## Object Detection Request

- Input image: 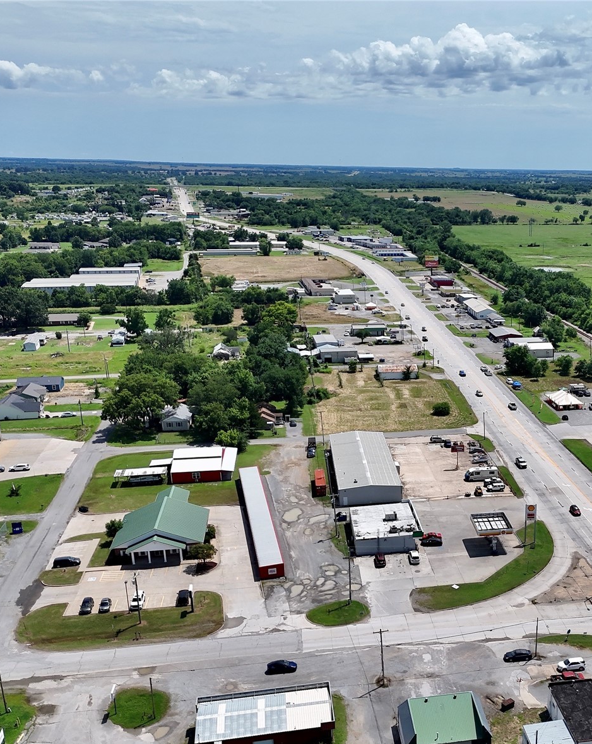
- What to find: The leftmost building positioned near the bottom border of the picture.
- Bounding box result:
[192,671,339,744]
